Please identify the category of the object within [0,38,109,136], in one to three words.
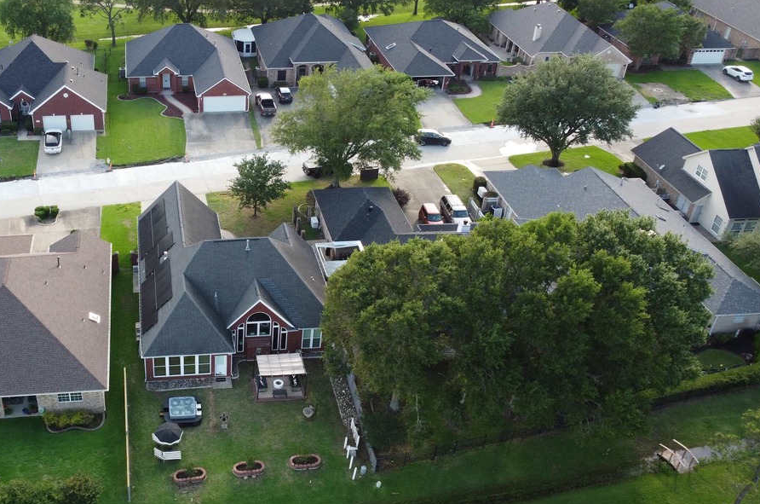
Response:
house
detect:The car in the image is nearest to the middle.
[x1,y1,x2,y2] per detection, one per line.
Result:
[418,198,447,228]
